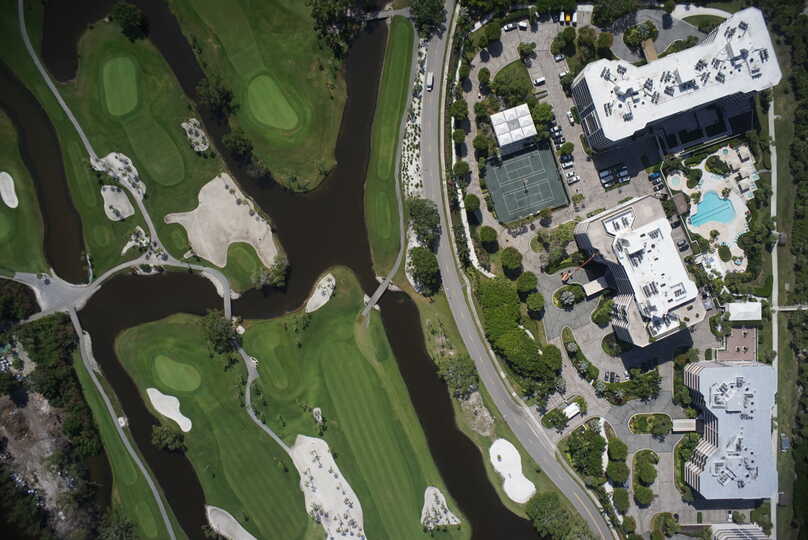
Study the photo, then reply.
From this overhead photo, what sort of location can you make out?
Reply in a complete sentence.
The area seen from above is a golf course.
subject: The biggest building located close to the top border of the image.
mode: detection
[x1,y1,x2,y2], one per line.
[569,6,782,152]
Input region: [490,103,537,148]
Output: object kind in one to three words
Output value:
building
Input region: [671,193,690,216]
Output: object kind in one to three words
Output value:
gazebo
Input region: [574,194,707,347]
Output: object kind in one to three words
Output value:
building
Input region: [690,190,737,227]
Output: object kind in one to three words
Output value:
swimming pool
